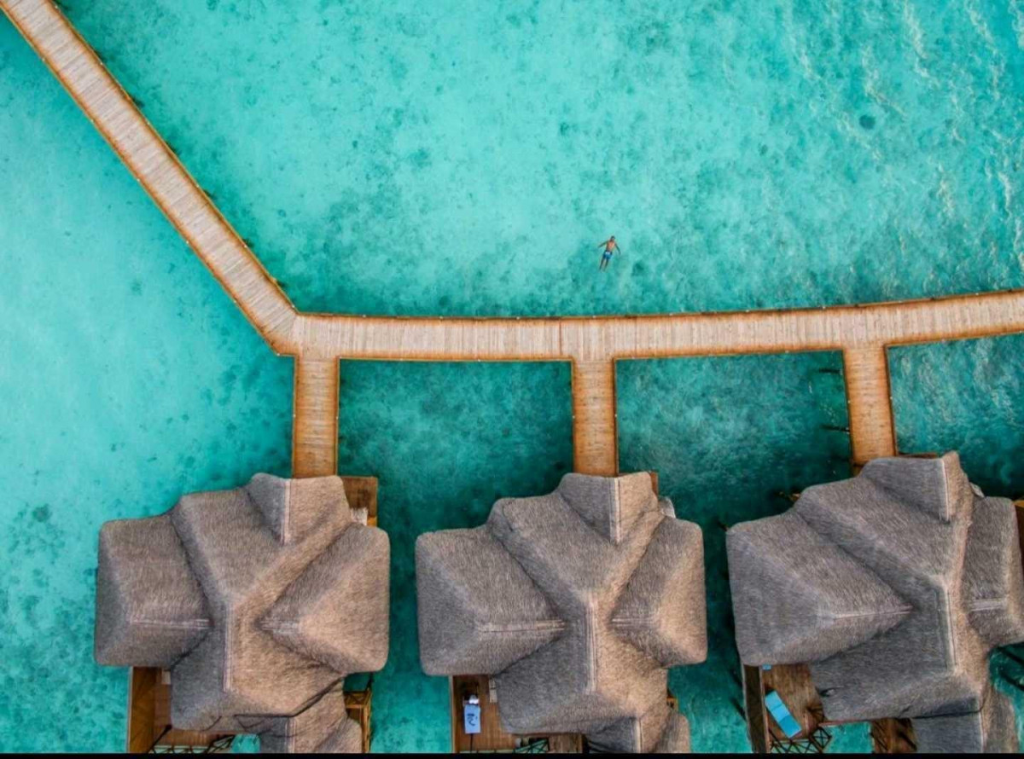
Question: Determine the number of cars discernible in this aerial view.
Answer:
0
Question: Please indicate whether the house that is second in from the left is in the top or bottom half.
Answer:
bottom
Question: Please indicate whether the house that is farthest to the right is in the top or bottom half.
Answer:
bottom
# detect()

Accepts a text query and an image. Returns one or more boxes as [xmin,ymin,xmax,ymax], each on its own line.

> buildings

[95,470,391,759]
[710,450,1024,759]
[416,467,707,759]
